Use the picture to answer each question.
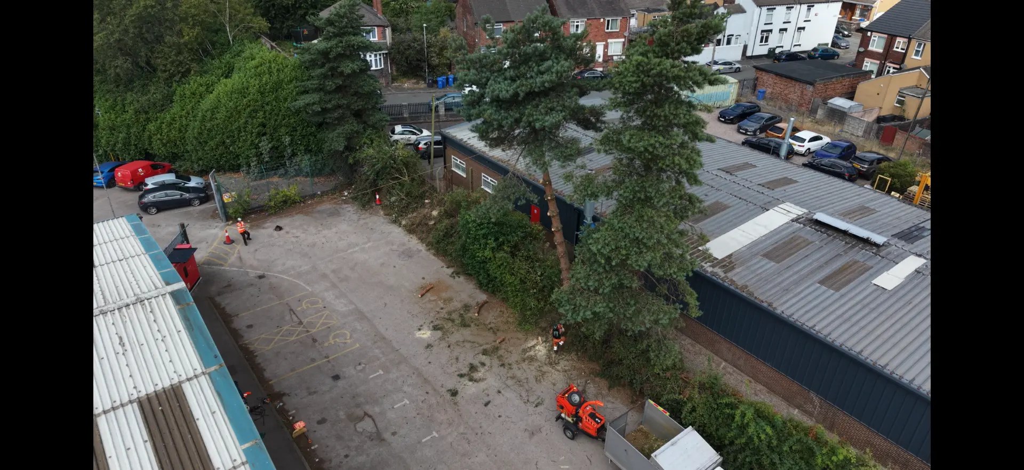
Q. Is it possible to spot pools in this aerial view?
No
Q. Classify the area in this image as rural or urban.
urban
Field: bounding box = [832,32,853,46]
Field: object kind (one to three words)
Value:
car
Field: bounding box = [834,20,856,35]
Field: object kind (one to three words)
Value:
car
